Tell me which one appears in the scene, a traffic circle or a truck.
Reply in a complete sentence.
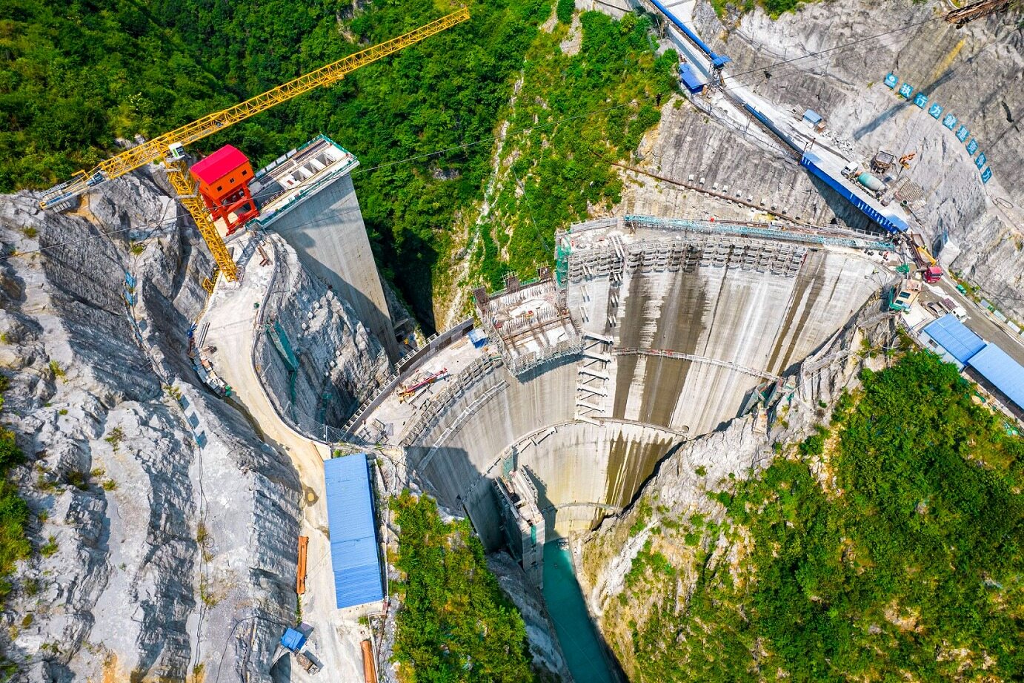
The image shows a truck.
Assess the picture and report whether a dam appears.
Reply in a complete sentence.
Yes, you can see a dam in this photo.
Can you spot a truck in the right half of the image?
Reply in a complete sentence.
Yes, I can see a truck in the right half of the image.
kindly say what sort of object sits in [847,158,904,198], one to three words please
truck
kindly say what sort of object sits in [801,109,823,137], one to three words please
shed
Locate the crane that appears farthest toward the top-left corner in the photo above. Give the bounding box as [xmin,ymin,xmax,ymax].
[33,1,473,291]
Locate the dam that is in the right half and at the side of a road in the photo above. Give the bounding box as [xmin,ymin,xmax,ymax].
[329,199,990,560]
